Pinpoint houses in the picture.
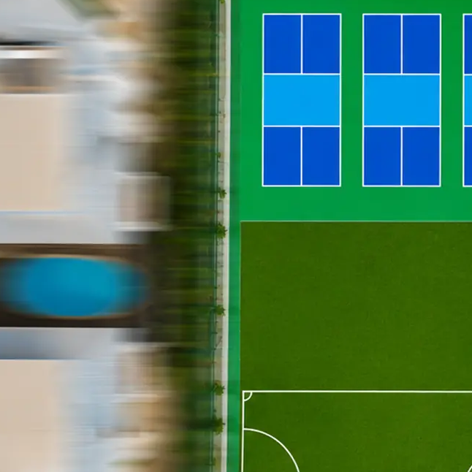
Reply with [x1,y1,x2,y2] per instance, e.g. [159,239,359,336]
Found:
[0,0,150,244]
[0,328,150,472]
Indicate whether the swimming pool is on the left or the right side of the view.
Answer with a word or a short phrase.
left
